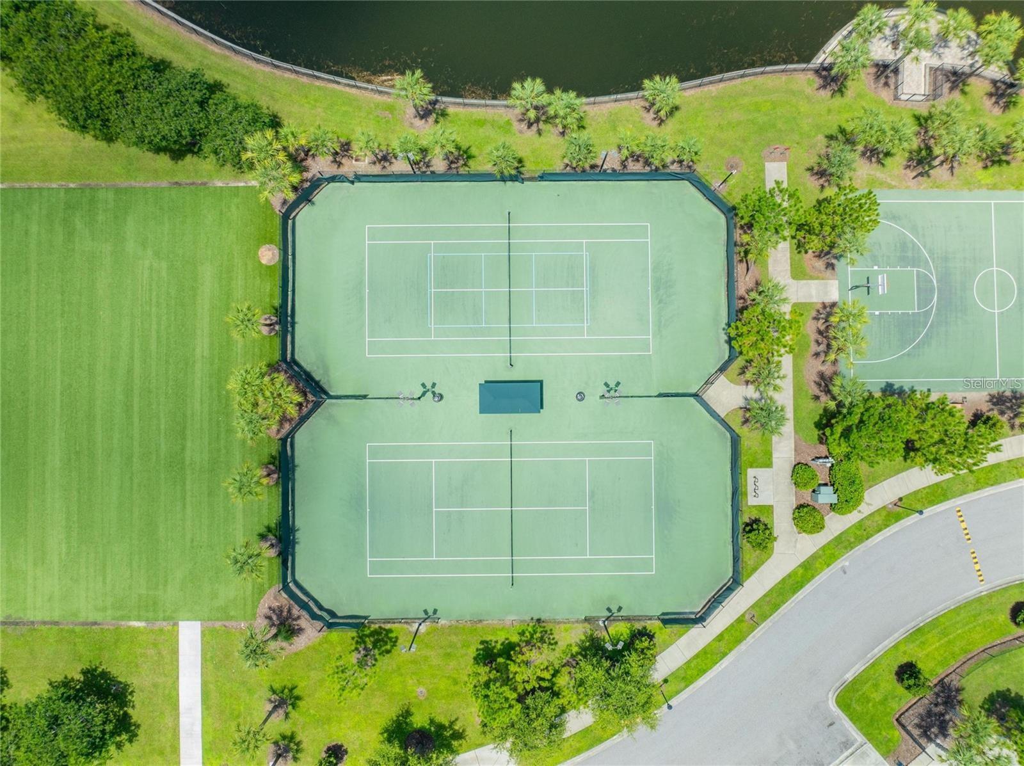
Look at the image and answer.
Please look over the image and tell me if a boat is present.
No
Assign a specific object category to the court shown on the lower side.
tennis court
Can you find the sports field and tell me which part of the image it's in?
left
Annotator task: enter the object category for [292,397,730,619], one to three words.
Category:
tennis court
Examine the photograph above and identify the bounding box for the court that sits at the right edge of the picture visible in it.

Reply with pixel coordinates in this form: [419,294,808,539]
[837,190,1024,392]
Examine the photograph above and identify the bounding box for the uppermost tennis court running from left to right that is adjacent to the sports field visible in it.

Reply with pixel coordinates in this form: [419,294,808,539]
[292,183,725,398]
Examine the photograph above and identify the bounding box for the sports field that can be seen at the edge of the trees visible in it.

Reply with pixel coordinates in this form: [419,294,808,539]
[0,186,280,621]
